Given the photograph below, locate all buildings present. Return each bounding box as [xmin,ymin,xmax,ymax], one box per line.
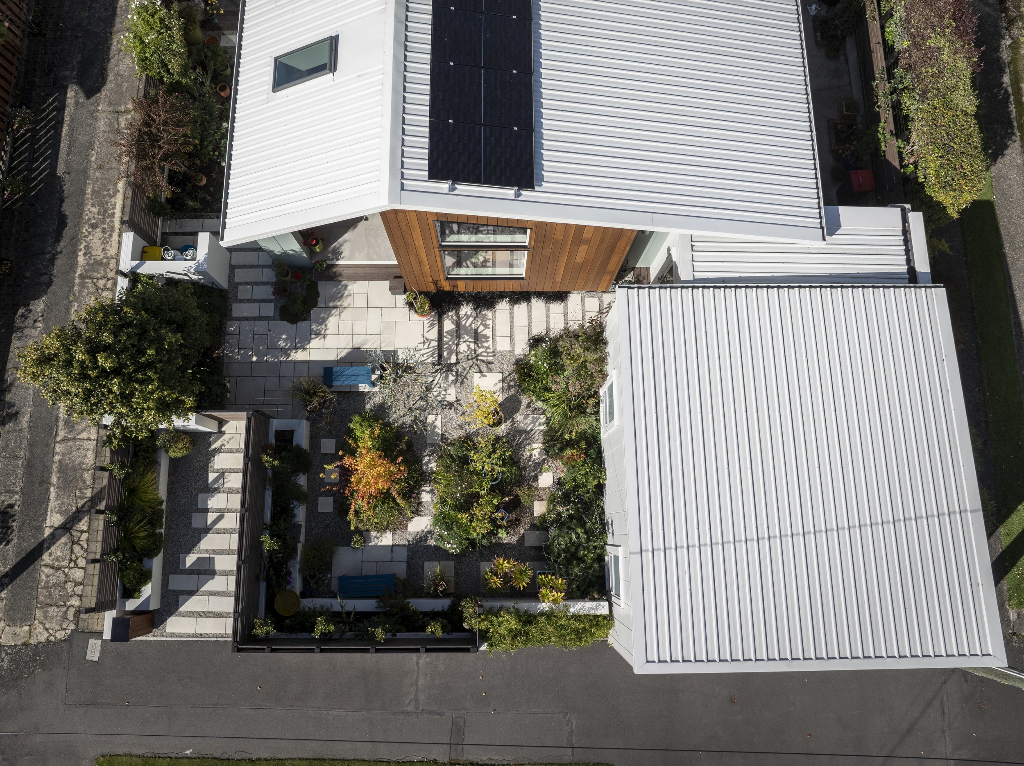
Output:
[599,281,1011,676]
[211,0,832,291]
